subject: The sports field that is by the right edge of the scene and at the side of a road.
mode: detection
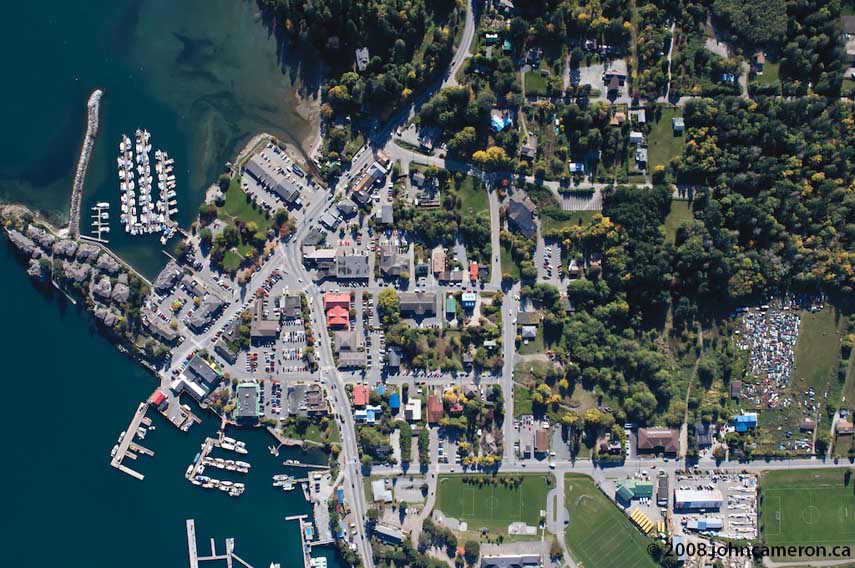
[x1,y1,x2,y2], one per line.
[761,468,855,562]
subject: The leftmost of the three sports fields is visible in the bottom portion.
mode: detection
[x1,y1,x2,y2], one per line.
[433,473,551,535]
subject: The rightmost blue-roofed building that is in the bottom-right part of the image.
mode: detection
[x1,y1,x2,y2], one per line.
[733,411,757,433]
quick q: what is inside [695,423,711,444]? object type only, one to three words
house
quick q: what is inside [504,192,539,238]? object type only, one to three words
building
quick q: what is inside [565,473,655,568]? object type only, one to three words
sports field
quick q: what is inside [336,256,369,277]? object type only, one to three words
building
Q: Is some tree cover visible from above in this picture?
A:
Yes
